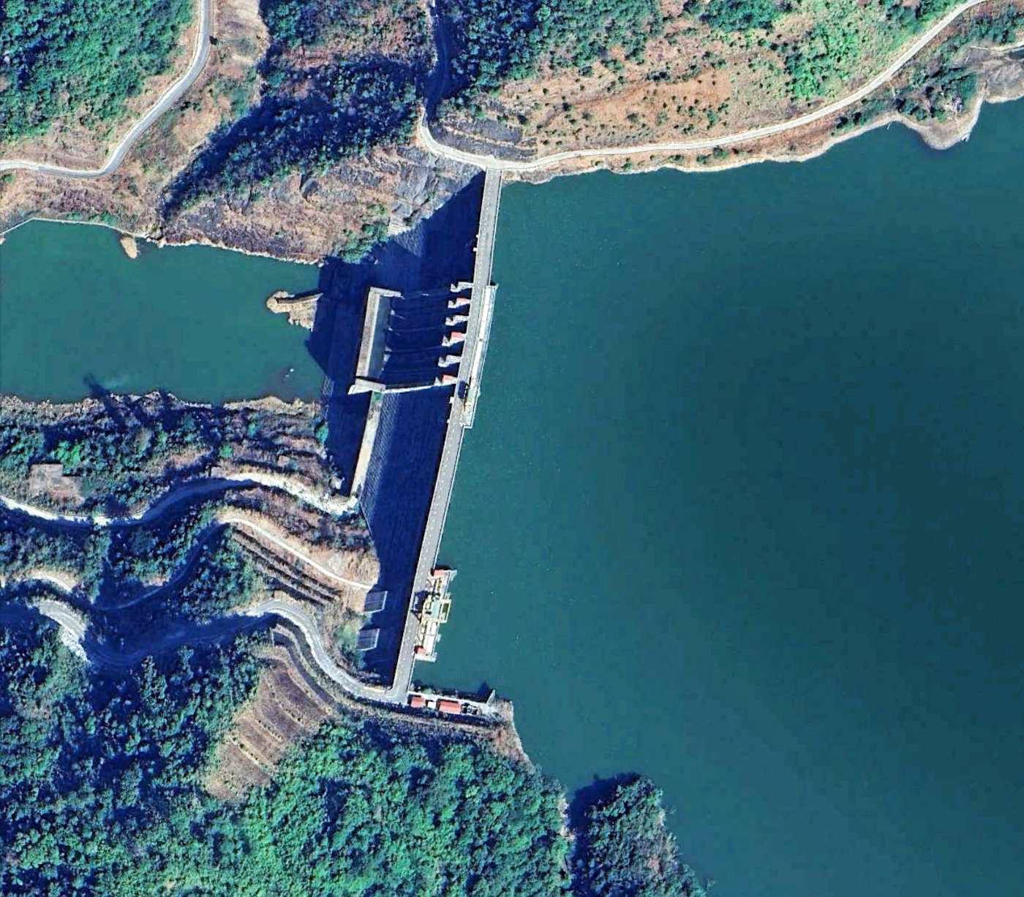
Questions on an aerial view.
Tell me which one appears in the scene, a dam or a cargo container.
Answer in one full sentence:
The one in the frame is a dam.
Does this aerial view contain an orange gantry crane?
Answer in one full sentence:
No, there is no orange gantry crane in the image.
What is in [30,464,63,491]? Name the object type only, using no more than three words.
building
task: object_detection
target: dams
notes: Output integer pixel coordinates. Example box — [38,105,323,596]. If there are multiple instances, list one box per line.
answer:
[346,168,502,702]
